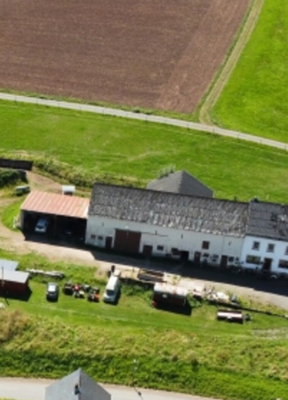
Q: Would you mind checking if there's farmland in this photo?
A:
Yes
